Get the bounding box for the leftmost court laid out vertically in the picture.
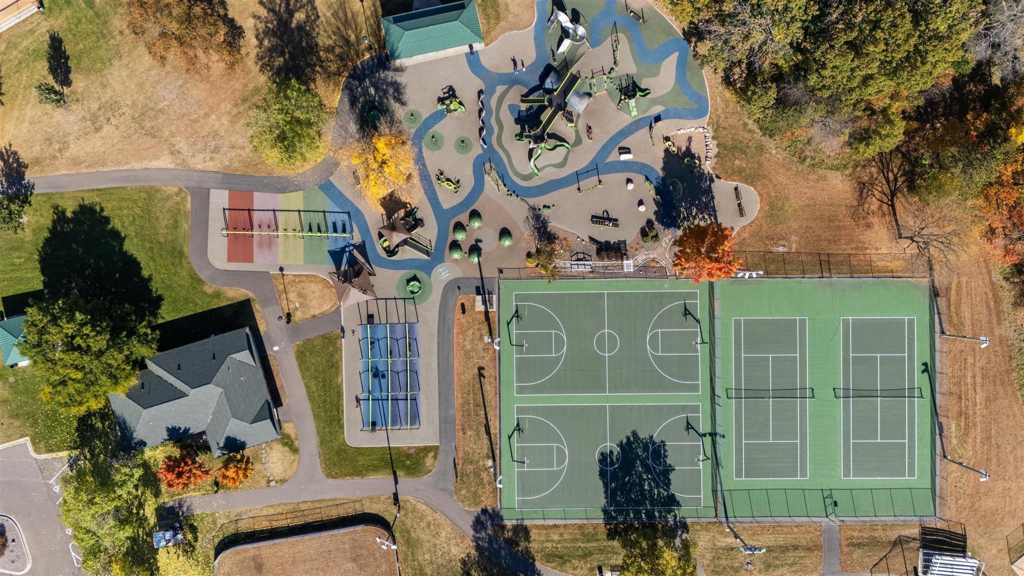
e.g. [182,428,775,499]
[733,318,809,479]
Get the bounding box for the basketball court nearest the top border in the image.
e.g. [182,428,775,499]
[514,291,701,396]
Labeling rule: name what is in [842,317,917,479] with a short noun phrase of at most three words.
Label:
tennis court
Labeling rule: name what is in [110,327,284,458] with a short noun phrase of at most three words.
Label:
building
